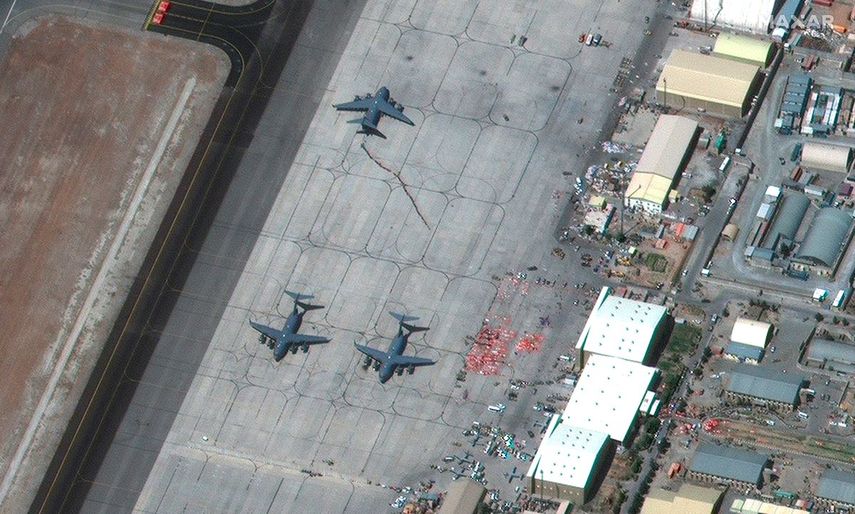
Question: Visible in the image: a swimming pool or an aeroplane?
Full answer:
I can see an aeroplane in this picture.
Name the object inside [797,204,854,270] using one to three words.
building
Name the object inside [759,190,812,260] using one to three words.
building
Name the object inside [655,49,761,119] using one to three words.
hangar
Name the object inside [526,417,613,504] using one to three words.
hangar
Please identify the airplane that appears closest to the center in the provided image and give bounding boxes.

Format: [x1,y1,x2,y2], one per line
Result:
[352,305,433,384]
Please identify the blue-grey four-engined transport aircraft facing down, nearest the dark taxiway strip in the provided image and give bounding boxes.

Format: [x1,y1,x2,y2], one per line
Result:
[247,285,326,363]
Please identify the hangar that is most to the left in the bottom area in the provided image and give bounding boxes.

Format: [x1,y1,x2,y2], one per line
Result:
[432,477,490,514]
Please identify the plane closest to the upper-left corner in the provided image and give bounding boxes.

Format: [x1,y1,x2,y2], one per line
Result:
[333,80,412,132]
